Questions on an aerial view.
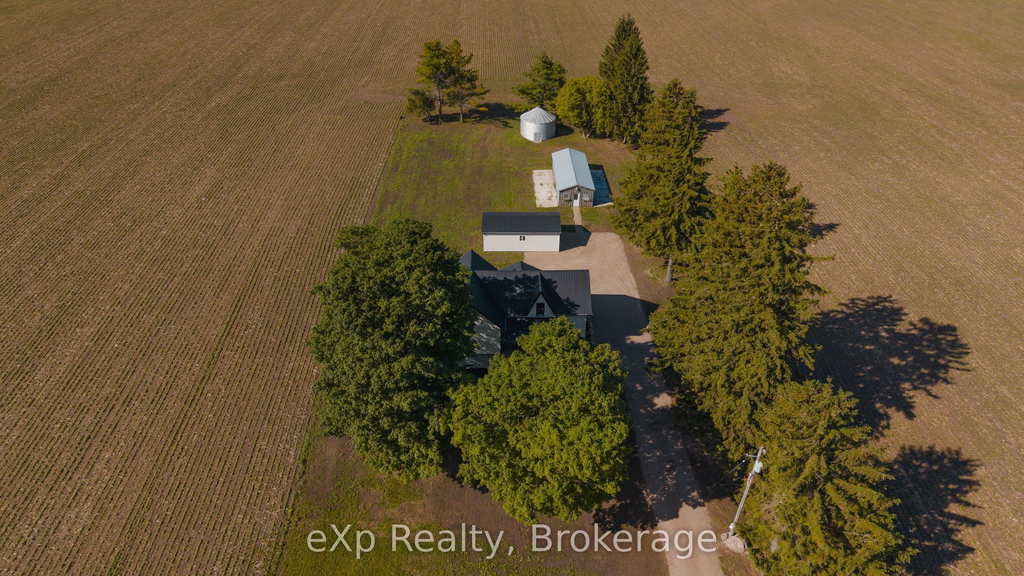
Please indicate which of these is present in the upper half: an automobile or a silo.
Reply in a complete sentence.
You can see a silo in the upper half.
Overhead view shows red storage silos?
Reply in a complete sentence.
No, I can see no red storage silo in this picture.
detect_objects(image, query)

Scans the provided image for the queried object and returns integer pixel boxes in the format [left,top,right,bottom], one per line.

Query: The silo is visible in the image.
[520,106,556,143]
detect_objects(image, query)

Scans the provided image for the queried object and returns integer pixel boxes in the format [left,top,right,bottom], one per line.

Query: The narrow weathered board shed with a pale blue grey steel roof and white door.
[552,147,596,207]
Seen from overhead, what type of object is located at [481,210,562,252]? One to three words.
building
